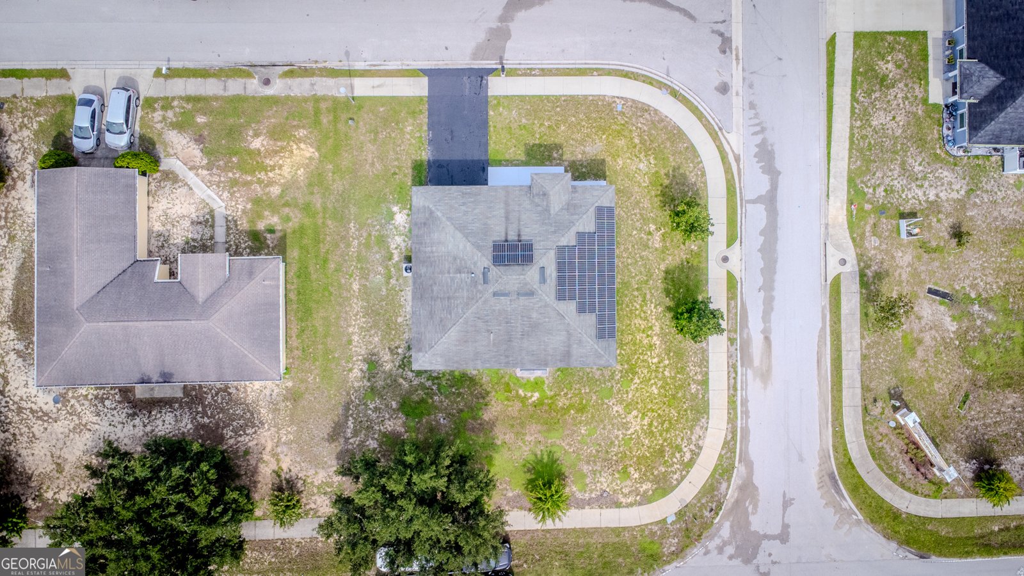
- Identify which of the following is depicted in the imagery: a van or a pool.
van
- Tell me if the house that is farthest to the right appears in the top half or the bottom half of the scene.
top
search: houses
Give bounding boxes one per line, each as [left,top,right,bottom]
[940,0,1024,148]
[34,167,291,388]
[411,172,617,371]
